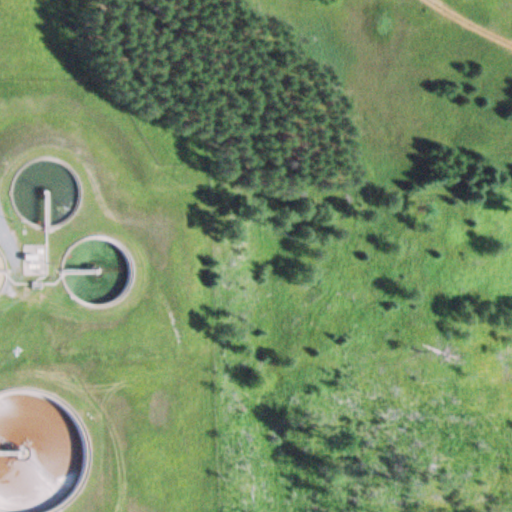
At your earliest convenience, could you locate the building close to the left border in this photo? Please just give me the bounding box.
[23,244,48,276]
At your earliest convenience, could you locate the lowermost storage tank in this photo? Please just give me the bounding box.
[0,386,92,512]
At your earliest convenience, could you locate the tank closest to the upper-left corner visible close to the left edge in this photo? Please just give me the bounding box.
[12,158,81,266]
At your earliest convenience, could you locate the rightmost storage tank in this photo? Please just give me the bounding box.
[61,236,133,308]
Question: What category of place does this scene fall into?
industrial area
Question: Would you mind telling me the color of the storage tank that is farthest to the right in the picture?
green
